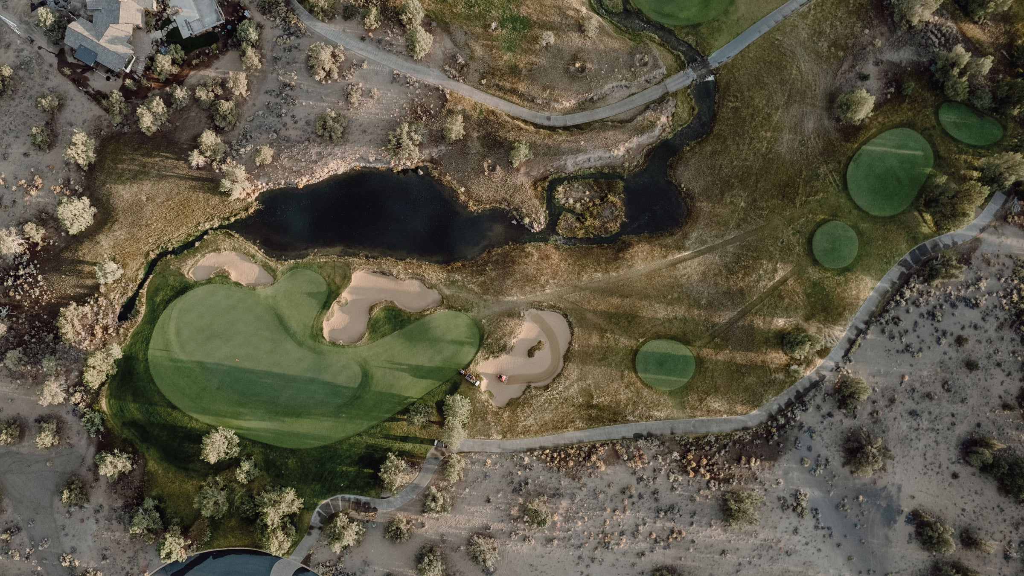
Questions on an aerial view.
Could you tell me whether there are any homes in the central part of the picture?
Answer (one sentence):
No, no home appears in the central part of the picture.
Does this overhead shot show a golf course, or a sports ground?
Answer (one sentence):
The area seen from above is a golf course.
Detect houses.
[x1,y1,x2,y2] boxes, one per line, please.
[170,0,226,39]
[64,0,158,74]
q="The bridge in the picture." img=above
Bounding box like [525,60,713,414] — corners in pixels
[685,55,717,87]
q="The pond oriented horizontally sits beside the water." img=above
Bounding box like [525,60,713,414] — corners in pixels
[120,81,714,319]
